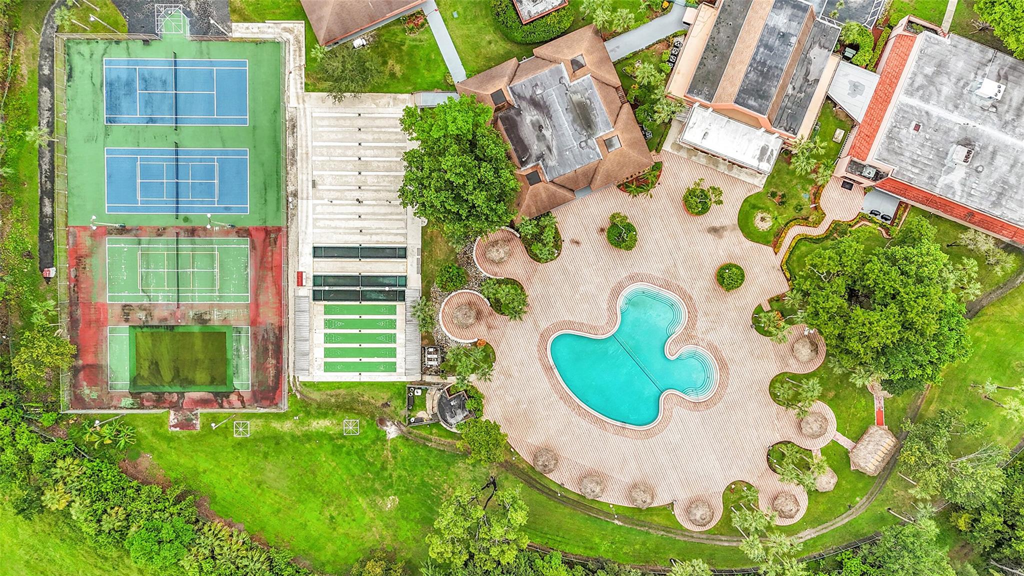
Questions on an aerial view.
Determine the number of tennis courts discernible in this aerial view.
4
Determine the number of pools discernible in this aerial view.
1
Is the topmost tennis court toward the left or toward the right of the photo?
left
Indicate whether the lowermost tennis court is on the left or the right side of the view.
left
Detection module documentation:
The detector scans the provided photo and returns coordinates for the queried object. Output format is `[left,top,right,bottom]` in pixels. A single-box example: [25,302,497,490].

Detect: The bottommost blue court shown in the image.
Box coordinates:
[105,141,249,220]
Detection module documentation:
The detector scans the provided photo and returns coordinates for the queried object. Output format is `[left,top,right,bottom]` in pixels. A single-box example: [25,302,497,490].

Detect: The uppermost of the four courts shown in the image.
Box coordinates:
[104,51,249,131]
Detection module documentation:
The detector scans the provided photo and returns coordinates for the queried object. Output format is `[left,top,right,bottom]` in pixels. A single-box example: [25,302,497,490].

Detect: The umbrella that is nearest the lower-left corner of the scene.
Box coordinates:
[451,303,478,329]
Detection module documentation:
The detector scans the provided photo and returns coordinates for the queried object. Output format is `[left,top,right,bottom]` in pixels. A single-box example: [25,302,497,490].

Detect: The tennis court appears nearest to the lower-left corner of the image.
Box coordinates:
[108,326,251,392]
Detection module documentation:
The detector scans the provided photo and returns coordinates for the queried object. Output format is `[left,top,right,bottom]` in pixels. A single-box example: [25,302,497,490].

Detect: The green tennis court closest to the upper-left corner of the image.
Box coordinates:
[106,232,250,309]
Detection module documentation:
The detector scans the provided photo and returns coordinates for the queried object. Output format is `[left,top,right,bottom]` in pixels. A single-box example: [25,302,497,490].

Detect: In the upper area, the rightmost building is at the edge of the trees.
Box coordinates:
[832,15,1024,246]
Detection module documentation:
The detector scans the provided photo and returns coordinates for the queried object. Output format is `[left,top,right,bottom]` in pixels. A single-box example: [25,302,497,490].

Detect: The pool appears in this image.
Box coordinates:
[537,273,730,440]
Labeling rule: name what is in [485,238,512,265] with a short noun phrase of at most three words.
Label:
umbrella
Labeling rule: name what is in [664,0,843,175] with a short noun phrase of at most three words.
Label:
building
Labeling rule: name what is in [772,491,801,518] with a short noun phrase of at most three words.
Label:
umbrella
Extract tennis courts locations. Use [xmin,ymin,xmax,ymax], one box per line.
[106,232,250,309]
[105,141,249,220]
[108,326,251,392]
[104,51,249,131]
